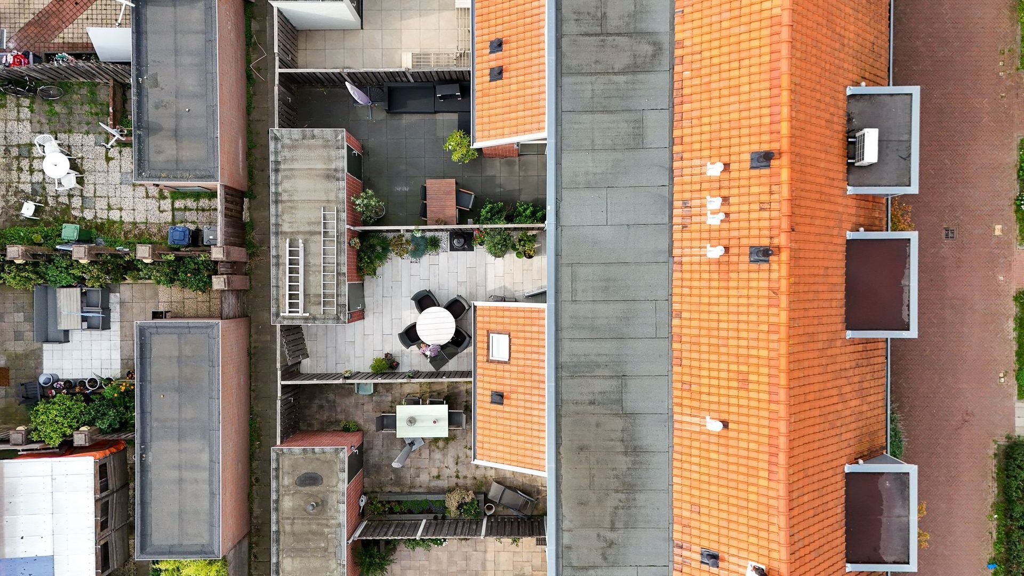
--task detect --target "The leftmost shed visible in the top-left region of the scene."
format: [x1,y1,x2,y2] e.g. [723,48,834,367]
[132,0,247,191]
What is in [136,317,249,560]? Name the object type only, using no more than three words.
shed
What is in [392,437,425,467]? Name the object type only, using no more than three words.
umbrella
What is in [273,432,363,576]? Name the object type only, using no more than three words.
shed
